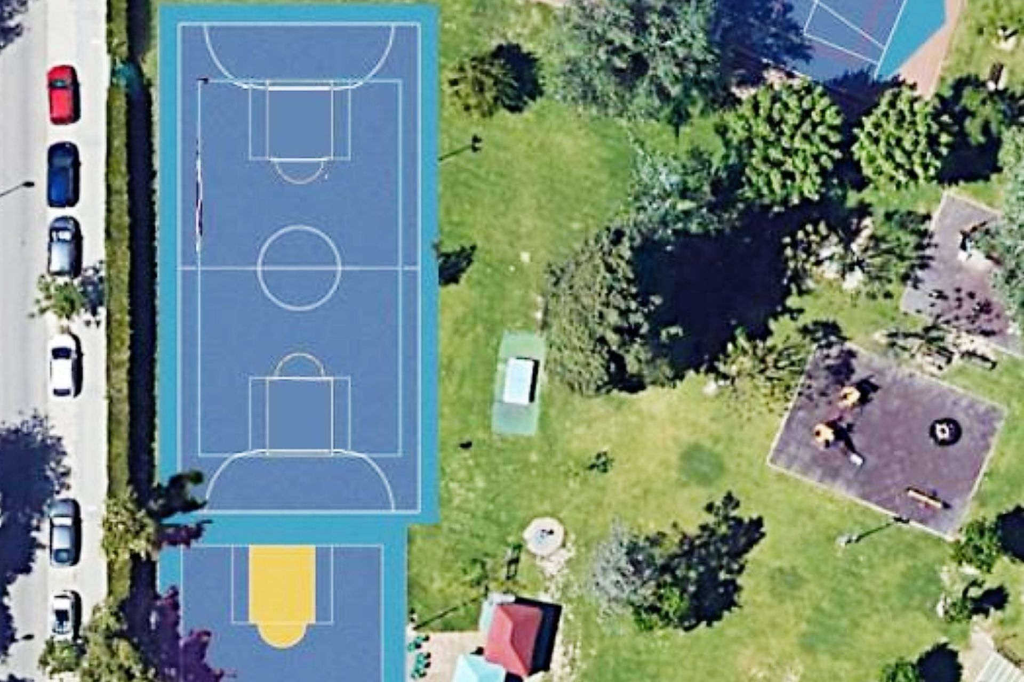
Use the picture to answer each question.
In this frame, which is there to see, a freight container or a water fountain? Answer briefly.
water fountain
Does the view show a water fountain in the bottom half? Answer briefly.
Yes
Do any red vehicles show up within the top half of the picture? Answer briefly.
Yes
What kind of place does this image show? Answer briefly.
sports ground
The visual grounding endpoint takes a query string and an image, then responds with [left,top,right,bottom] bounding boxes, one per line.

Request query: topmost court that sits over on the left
[158,5,439,524]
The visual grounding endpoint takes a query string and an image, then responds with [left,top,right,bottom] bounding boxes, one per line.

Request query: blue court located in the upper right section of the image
[706,0,945,86]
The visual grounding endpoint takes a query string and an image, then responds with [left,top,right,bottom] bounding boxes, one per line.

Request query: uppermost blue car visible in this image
[47,142,75,206]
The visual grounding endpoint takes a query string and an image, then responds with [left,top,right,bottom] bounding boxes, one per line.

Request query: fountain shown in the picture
[524,517,564,557]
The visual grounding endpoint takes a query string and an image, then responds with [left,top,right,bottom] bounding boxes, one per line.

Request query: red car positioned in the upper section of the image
[46,64,74,124]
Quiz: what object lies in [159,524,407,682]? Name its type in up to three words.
sports court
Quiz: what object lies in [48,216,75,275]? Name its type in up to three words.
car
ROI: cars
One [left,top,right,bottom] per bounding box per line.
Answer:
[47,142,75,206]
[46,64,74,124]
[50,589,77,645]
[48,500,76,566]
[48,216,75,275]
[48,335,76,397]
